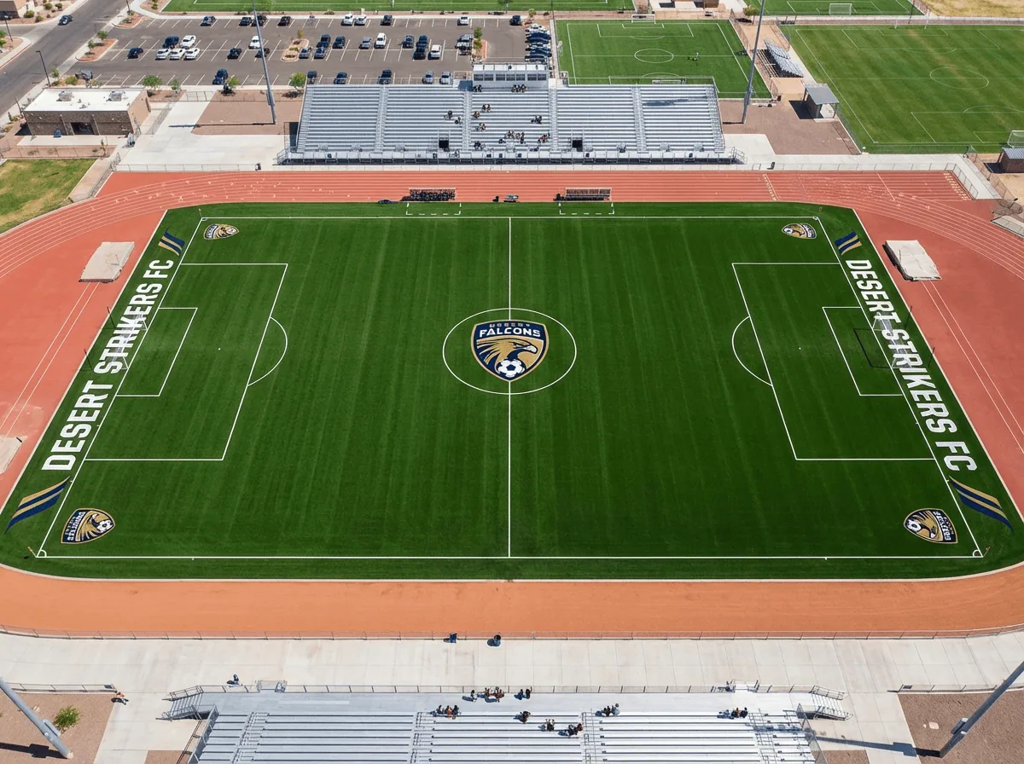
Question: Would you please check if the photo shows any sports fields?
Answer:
Yes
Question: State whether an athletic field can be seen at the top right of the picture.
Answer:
Yes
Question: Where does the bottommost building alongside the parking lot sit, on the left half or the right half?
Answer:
left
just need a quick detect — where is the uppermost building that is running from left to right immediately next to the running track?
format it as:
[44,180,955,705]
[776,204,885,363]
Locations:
[21,88,151,136]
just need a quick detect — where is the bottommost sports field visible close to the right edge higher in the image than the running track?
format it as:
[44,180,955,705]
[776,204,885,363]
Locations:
[782,24,1024,153]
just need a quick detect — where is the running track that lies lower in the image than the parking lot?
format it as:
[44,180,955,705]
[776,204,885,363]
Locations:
[0,170,1024,519]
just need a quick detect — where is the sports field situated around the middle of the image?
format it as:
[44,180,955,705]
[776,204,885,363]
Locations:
[0,203,1024,578]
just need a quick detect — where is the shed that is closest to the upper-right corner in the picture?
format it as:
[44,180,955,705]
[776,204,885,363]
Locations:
[993,141,1024,169]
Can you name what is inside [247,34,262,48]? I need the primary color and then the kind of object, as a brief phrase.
white car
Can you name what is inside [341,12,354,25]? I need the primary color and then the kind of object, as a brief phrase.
white vehicle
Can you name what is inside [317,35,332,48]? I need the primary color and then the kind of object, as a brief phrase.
black vehicle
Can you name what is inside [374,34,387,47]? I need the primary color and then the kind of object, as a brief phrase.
white vehicle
